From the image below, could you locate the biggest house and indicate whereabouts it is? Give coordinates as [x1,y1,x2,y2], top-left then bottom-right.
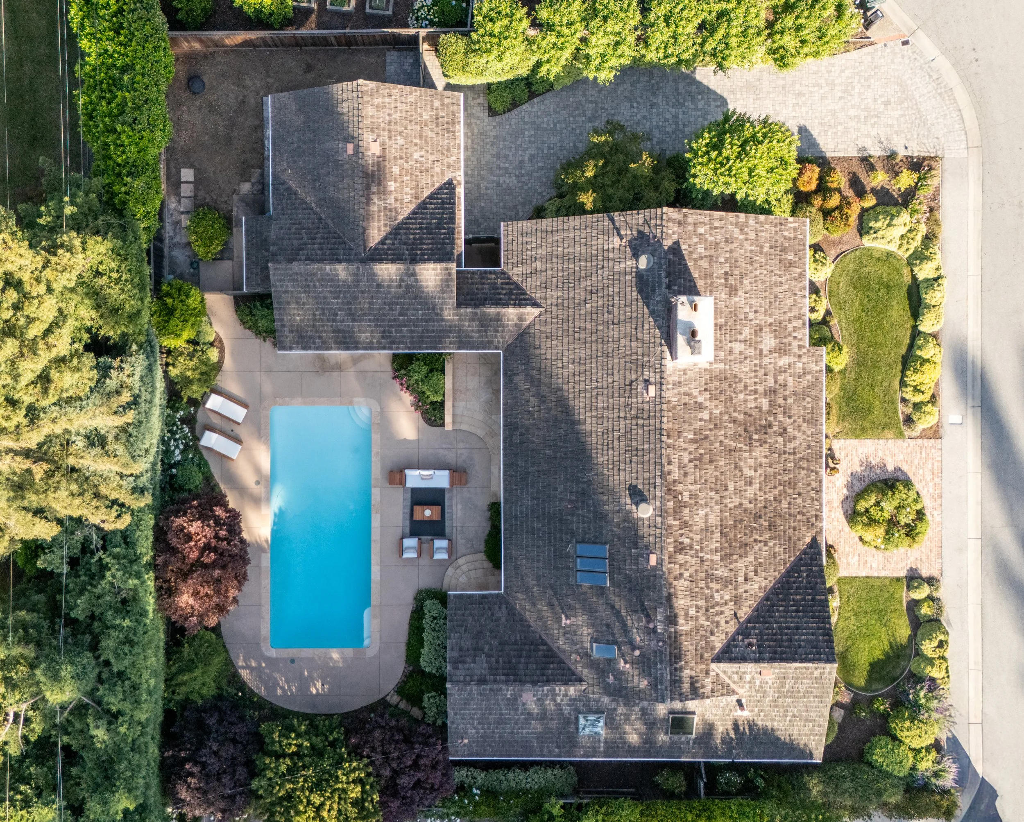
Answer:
[242,82,837,763]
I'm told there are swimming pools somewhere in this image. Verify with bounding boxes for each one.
[270,405,372,649]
